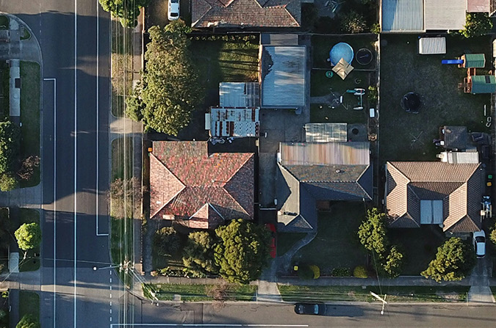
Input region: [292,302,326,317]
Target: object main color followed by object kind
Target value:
black car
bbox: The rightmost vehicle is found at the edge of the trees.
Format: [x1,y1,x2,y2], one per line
[471,233,486,259]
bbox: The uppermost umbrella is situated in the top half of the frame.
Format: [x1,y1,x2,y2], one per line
[331,57,352,79]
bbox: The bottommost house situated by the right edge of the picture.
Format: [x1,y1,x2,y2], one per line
[383,160,484,233]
